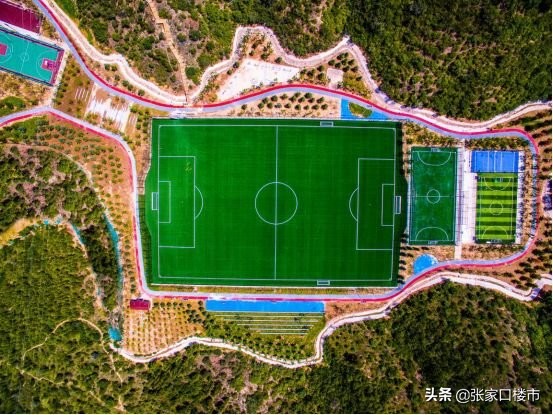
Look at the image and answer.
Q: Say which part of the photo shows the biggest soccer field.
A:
center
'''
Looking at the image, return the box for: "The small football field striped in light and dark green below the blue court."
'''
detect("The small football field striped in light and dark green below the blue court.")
[475,173,518,244]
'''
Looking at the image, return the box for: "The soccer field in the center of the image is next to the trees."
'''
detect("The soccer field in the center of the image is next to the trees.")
[145,116,407,290]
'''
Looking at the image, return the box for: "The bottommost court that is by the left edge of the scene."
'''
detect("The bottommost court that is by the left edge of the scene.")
[0,32,64,84]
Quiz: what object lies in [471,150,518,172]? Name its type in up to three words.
sports court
